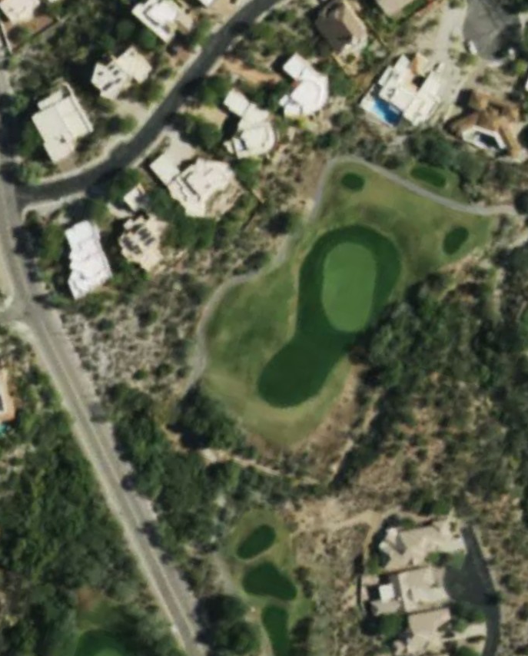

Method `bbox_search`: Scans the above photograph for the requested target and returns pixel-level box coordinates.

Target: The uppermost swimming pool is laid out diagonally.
[371,96,404,126]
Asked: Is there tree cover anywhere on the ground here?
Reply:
Yes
